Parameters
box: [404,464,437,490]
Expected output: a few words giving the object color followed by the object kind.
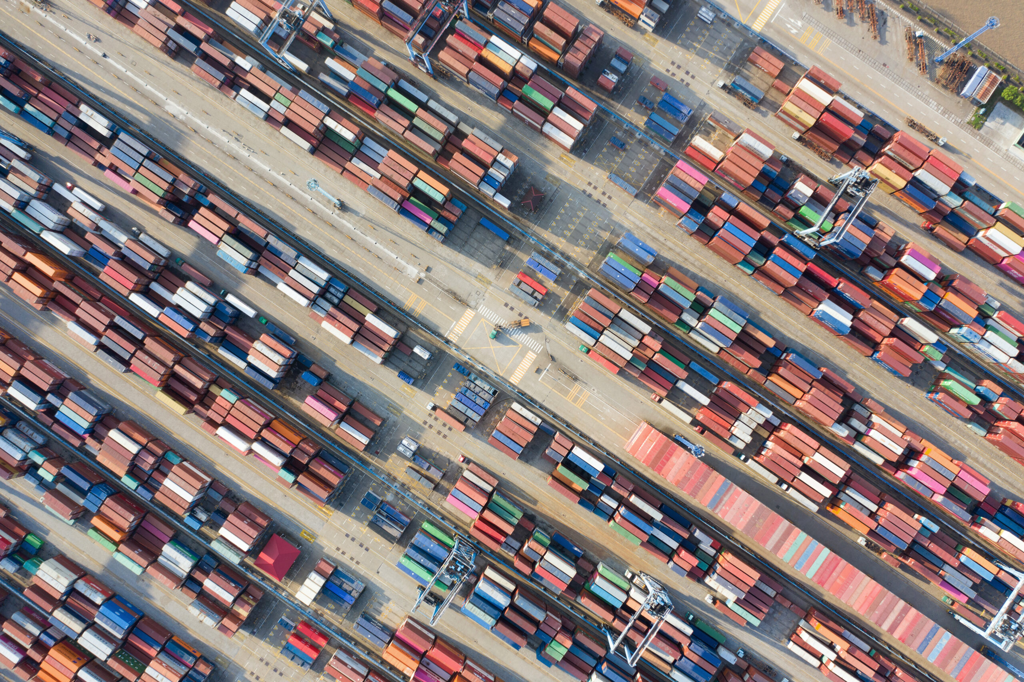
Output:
gray shipping container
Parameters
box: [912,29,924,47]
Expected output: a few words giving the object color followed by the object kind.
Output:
white vehicle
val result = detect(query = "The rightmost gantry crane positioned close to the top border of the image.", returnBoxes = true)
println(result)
[400,0,478,81]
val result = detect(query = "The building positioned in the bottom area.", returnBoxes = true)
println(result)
[254,526,300,580]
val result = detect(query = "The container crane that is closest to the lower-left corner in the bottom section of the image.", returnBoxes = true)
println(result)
[404,530,485,633]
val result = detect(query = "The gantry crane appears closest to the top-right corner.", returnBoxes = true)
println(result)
[790,159,888,252]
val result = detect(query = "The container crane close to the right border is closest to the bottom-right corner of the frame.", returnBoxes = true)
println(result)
[943,551,1024,660]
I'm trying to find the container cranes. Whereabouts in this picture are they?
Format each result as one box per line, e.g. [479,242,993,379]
[404,530,485,633]
[253,0,342,80]
[790,159,888,252]
[943,551,1024,660]
[400,0,478,81]
[598,570,682,677]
